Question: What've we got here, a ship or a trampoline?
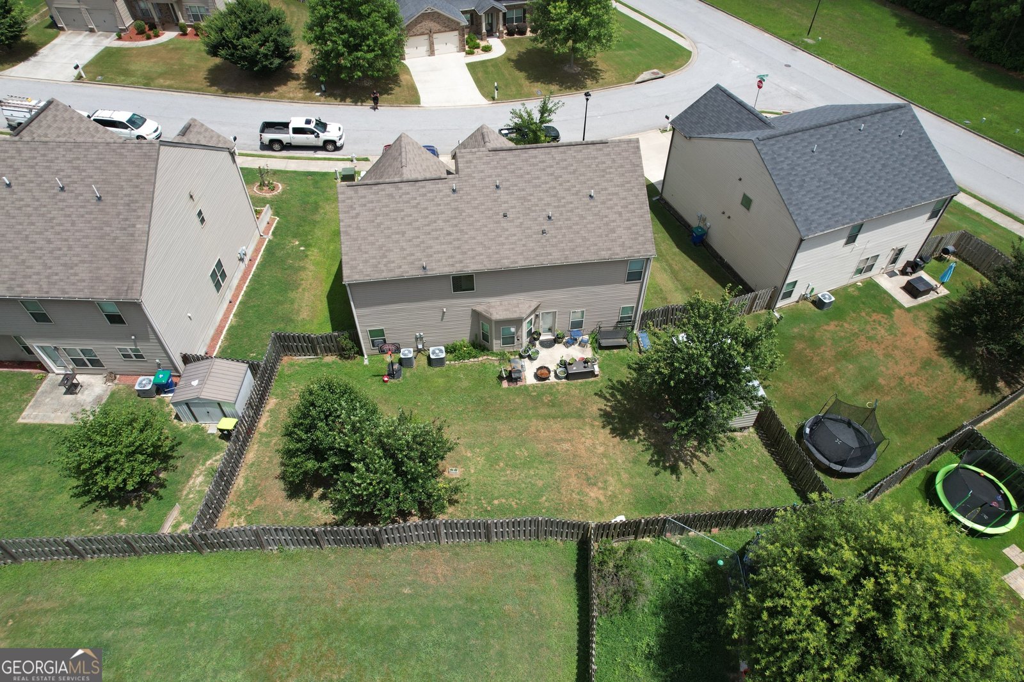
trampoline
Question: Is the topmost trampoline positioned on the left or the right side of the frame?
right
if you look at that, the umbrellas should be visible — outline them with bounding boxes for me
[940,258,963,291]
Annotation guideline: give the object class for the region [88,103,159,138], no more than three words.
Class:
car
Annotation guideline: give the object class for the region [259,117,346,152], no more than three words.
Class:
truck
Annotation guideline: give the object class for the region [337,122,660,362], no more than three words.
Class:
house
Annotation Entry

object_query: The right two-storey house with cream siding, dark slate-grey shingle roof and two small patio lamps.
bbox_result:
[652,85,961,316]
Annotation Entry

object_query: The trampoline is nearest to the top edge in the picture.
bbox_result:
[797,393,901,489]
